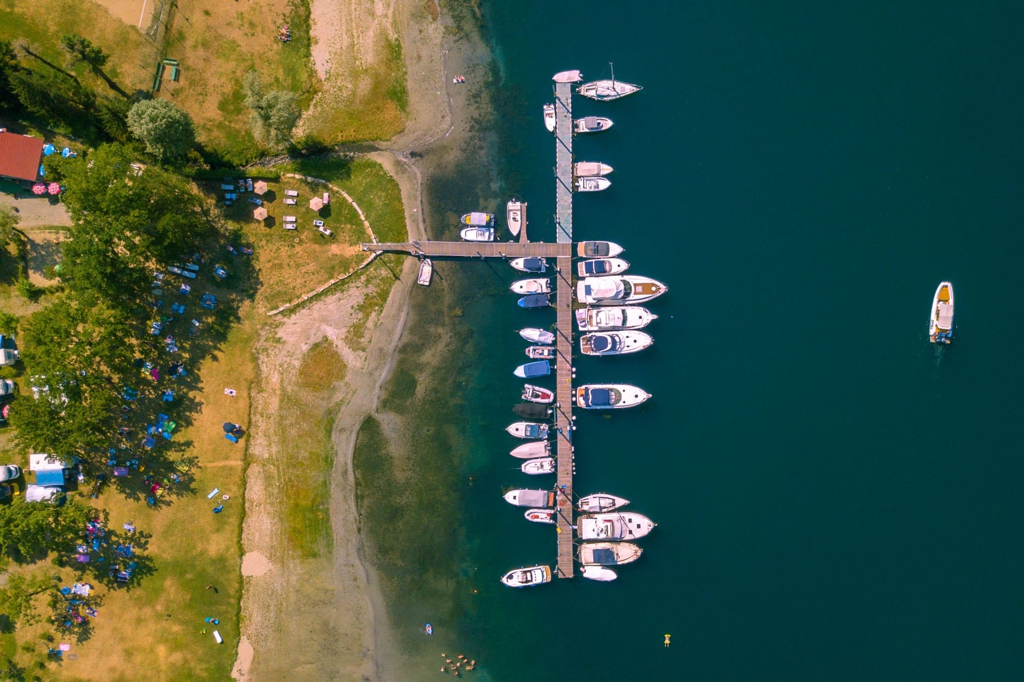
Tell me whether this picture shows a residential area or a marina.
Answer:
marina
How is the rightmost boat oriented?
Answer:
vertically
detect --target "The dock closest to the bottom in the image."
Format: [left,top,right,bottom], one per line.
[558,257,573,577]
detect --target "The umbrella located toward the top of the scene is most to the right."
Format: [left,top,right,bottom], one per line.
[310,197,323,211]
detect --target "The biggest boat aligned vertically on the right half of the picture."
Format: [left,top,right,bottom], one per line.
[929,282,955,343]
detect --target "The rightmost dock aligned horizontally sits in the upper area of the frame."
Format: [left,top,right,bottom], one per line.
[414,241,573,257]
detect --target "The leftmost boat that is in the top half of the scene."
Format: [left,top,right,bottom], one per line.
[418,259,433,285]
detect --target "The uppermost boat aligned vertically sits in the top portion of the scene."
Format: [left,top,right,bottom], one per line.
[544,101,557,132]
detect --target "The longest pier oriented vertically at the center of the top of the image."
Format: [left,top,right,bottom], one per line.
[556,82,572,241]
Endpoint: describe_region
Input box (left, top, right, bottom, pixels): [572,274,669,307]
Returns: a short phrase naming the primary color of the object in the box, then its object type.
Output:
white boat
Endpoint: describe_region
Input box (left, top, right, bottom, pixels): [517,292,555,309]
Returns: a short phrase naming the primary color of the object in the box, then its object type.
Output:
blue boat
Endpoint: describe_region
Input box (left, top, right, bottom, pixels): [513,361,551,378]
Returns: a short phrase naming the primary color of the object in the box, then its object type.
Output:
blue boat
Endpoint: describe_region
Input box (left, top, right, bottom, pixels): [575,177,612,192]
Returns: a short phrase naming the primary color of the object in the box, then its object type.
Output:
white boat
